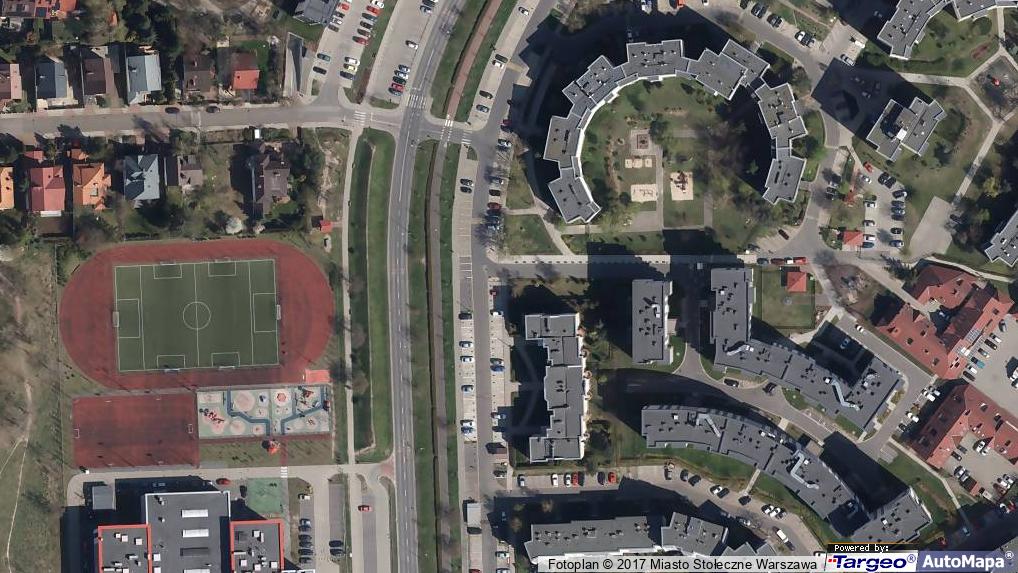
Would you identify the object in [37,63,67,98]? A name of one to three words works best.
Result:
house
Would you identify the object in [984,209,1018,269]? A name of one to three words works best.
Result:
building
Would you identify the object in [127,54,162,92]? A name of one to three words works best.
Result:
house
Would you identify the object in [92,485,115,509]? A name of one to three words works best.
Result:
shed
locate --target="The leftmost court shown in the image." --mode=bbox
[74,394,198,468]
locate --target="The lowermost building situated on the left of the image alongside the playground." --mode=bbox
[97,492,284,573]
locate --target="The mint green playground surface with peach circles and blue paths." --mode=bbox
[197,384,329,437]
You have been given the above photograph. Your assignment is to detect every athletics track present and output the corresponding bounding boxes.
[60,240,334,389]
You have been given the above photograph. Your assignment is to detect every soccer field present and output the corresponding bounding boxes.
[114,259,279,372]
